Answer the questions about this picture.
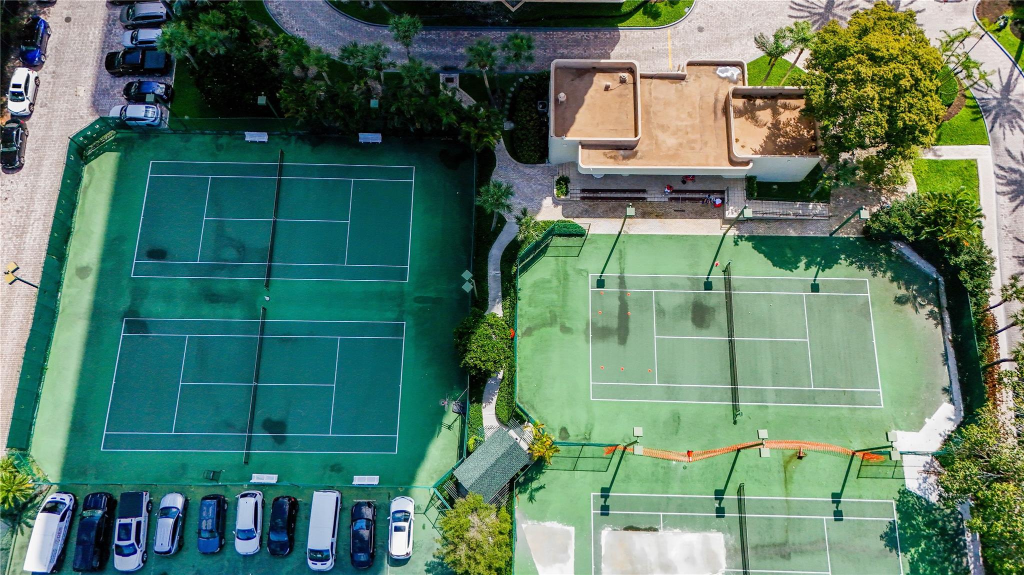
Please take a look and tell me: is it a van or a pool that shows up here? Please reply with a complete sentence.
This aerial view contains a van.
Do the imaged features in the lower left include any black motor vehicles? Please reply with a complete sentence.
Yes, a black motor vehicle shows up in the lower left.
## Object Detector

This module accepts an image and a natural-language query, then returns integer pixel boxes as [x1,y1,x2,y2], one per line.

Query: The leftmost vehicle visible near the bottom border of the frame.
[17,492,80,575]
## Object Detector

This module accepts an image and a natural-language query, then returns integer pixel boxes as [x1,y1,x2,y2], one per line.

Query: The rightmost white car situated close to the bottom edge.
[387,497,416,560]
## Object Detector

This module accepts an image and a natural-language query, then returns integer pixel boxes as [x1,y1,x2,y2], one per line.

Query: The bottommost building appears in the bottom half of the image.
[440,412,536,507]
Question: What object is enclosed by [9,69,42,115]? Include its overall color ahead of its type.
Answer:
white car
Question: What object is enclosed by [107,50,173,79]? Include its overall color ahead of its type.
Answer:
black truck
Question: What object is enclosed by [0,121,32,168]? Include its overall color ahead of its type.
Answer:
black car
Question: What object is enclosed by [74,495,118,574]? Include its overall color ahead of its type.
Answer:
black truck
